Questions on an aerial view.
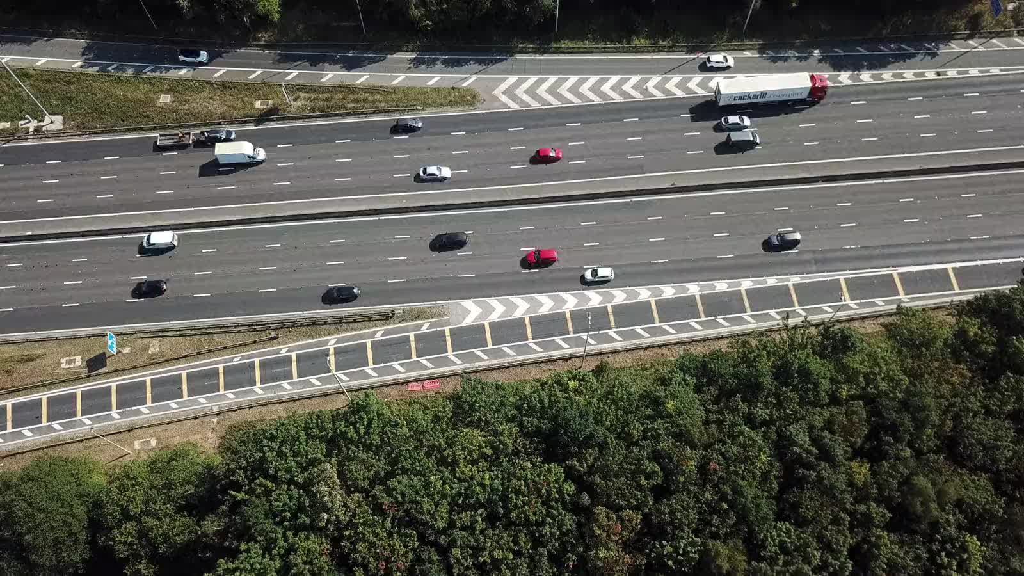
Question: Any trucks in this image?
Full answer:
Yes, there's a truck here.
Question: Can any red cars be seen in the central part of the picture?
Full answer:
Yes, a red car appears in the central part of the picture.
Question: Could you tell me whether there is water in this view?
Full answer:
No, there is no water in the image.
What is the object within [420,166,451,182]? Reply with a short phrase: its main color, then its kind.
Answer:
white car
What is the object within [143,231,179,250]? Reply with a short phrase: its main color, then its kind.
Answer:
white vehicle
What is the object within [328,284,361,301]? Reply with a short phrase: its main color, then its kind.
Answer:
black car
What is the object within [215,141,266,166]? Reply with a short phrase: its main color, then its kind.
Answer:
white vehicle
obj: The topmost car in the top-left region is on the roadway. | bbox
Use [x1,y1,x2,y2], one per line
[179,50,209,64]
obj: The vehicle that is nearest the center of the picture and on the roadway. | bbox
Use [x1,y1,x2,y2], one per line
[527,248,558,265]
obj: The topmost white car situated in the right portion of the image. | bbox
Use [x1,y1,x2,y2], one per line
[705,55,734,69]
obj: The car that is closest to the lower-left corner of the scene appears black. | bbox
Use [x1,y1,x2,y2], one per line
[138,280,170,296]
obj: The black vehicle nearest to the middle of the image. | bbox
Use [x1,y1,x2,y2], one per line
[436,233,468,249]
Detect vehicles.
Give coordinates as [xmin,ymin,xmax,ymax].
[527,248,558,265]
[395,118,424,133]
[420,166,451,182]
[179,50,209,64]
[720,115,751,130]
[436,233,468,249]
[143,231,179,250]
[537,147,564,163]
[713,75,826,111]
[202,128,236,144]
[705,55,734,69]
[768,231,804,248]
[138,280,170,296]
[583,266,615,283]
[726,129,760,147]
[328,284,361,301]
[215,141,266,166]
